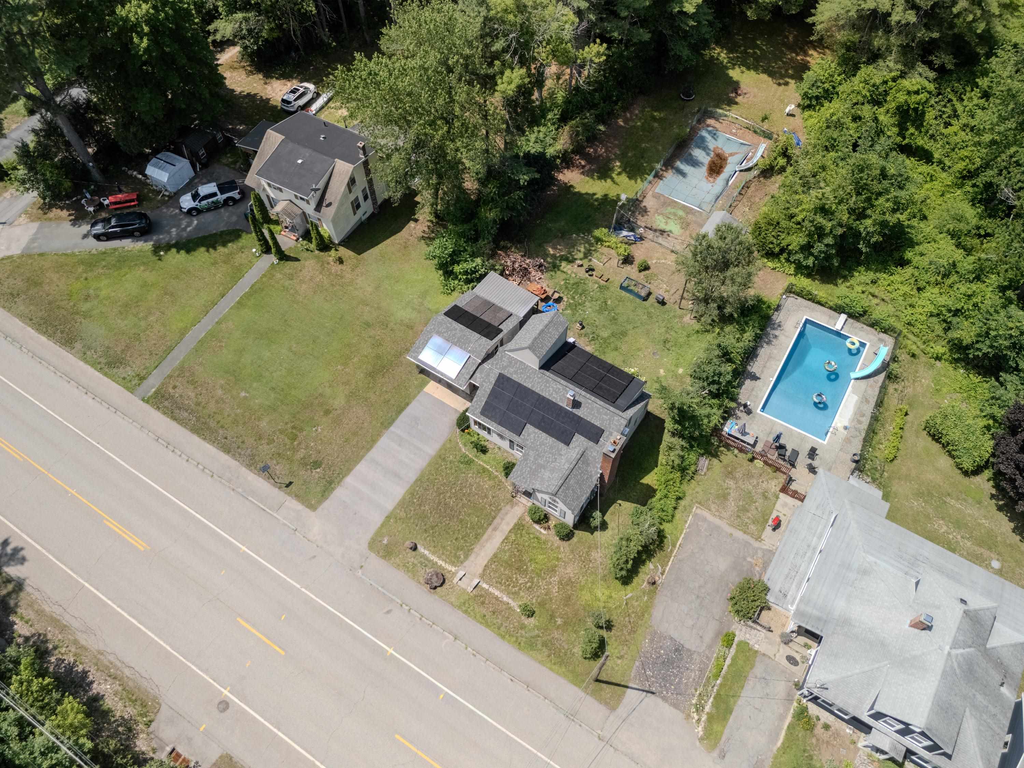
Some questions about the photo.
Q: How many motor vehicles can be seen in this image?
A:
3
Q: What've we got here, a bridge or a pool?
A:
pool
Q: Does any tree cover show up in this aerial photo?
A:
Yes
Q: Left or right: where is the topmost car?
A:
left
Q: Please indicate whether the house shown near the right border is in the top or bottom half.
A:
bottom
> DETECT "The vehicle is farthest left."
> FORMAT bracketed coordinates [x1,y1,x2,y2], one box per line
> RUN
[86,209,153,243]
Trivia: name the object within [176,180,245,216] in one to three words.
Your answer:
truck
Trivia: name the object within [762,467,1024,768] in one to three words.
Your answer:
house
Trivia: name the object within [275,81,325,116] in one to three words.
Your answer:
car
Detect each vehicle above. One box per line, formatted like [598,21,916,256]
[176,180,245,216]
[275,81,325,116]
[86,209,153,243]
